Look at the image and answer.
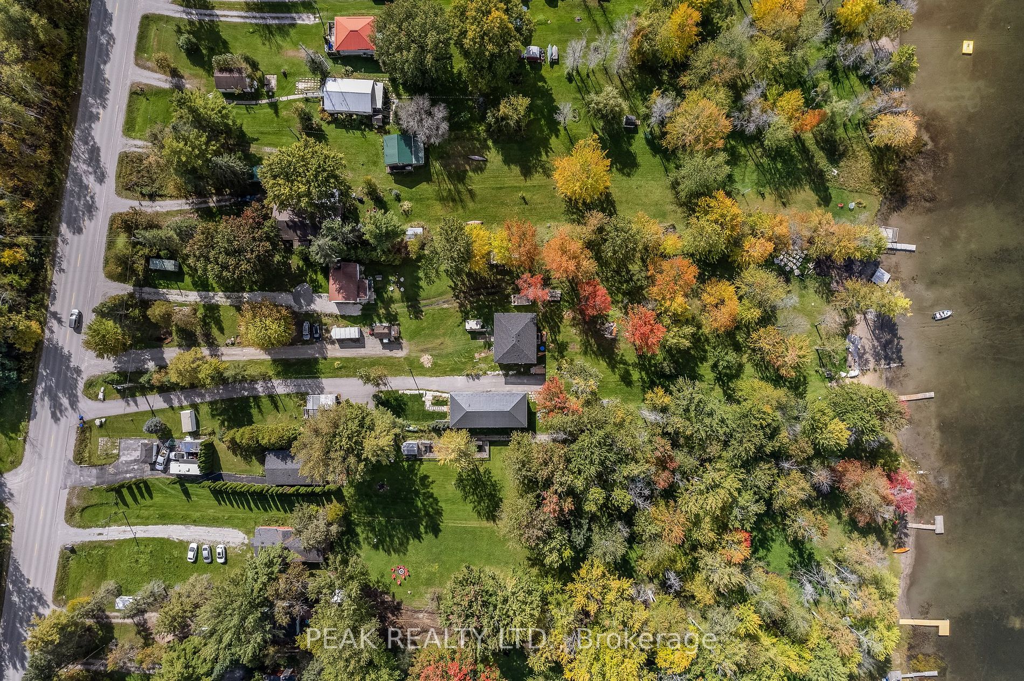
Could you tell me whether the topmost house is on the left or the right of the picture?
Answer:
left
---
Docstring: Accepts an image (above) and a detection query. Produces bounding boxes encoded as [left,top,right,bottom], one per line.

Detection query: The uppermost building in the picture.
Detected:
[327,16,377,55]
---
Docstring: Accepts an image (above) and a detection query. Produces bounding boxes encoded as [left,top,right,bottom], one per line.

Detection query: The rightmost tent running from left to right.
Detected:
[331,327,362,339]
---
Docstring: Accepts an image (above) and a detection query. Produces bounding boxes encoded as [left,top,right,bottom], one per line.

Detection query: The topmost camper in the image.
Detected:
[522,46,541,60]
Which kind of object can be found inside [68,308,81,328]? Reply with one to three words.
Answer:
vehicle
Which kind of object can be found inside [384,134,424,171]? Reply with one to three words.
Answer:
building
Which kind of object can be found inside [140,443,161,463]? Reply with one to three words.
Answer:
shed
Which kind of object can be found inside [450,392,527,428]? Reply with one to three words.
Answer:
house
